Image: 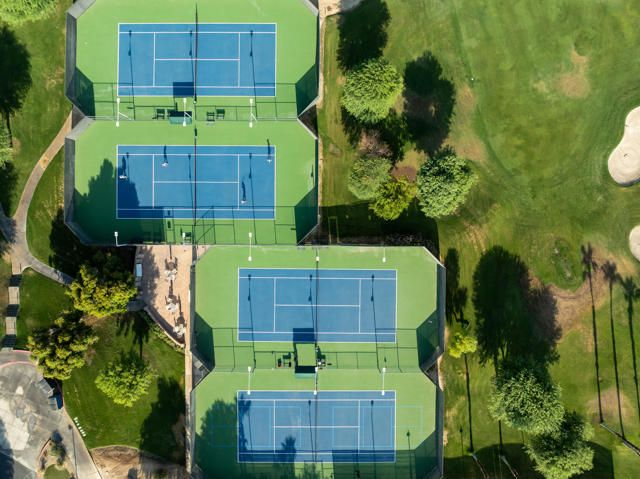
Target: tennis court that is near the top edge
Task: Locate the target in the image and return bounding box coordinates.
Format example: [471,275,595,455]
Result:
[76,0,318,120]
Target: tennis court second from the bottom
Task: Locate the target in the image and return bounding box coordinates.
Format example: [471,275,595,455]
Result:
[196,245,438,366]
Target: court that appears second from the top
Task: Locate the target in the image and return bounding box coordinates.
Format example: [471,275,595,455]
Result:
[75,120,317,243]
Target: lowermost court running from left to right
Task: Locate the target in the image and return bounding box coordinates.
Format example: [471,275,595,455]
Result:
[195,366,438,479]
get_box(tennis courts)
[195,366,438,479]
[76,0,318,120]
[196,245,438,366]
[75,120,317,243]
